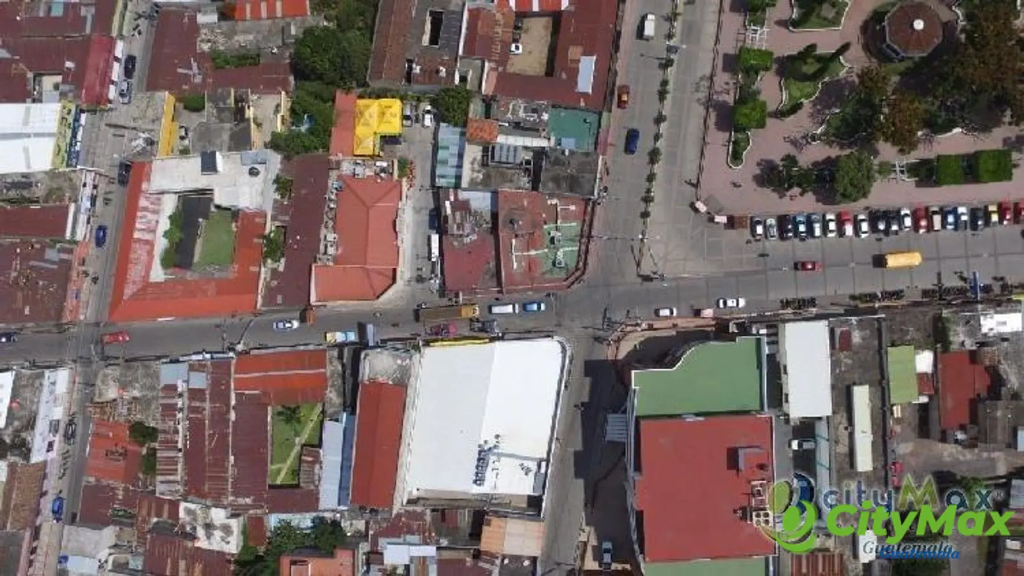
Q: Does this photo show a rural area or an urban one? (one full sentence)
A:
The land in this view is best described as urban.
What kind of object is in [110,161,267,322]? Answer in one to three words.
house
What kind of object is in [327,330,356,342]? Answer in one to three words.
vehicle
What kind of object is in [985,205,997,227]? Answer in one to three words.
vehicle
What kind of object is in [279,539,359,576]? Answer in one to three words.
house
